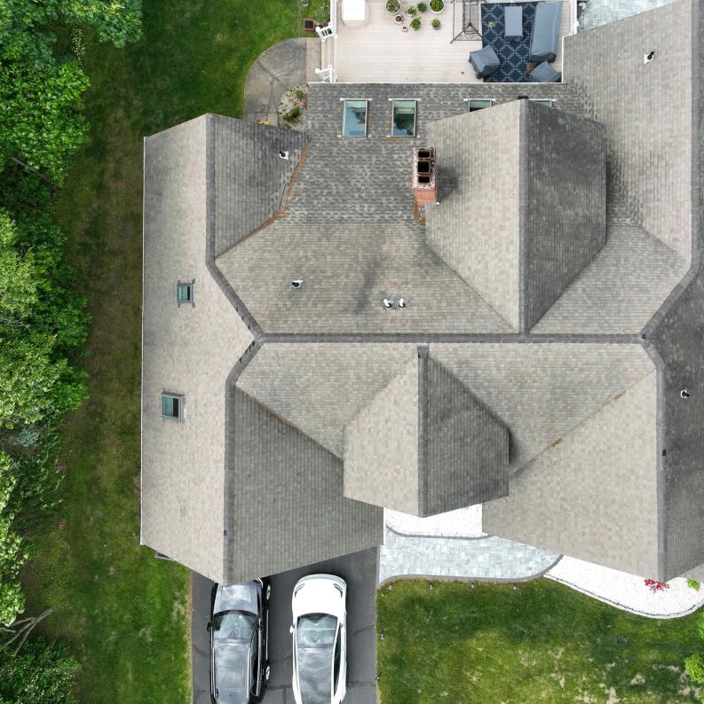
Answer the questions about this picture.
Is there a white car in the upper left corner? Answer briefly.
No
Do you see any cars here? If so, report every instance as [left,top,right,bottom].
[203,574,270,704]
[287,569,348,704]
